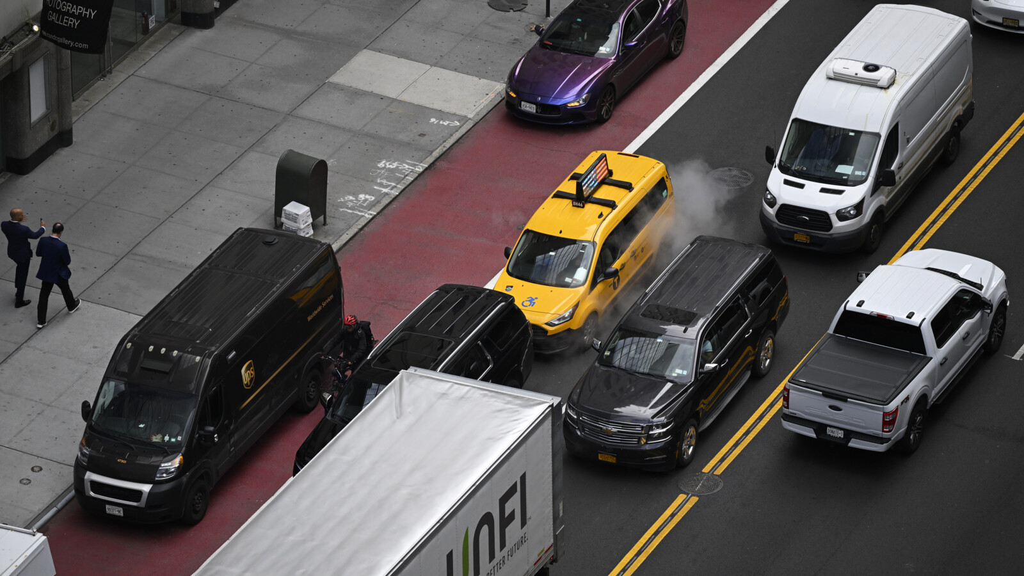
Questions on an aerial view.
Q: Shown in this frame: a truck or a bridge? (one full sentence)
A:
The one in the frame is a truck.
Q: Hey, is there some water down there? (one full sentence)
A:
No, the picture contains no water.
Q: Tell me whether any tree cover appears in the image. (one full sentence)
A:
No, there is no tree cover in the image.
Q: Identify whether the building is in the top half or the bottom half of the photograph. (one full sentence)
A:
The building sits in the top half of the picture.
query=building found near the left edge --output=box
[0,0,230,174]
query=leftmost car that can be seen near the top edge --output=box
[501,0,689,131]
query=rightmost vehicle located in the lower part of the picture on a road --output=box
[779,249,1015,454]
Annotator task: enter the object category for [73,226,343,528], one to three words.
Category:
van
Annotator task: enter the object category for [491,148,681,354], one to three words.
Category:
vehicle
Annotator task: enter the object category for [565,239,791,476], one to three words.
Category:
car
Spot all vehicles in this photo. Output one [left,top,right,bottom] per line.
[73,226,343,528]
[565,239,791,476]
[779,249,1015,454]
[299,284,536,466]
[756,14,973,260]
[491,148,681,354]
[976,0,1024,40]
[501,0,689,131]
[0,518,59,576]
